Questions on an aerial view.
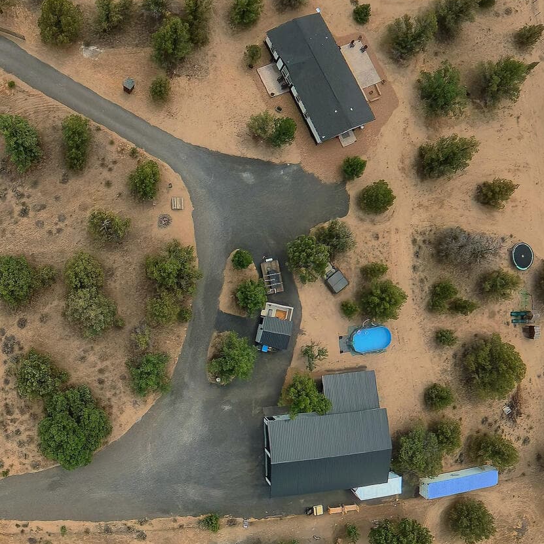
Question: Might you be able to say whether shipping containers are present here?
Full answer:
Yes, a shipping container can be made out from above.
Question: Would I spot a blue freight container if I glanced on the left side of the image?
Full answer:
No, I see no blue freight container on the left side of the image.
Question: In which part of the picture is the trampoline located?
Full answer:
You can find the trampoline in the right area of the picture.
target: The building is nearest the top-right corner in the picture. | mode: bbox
[265,13,375,146]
